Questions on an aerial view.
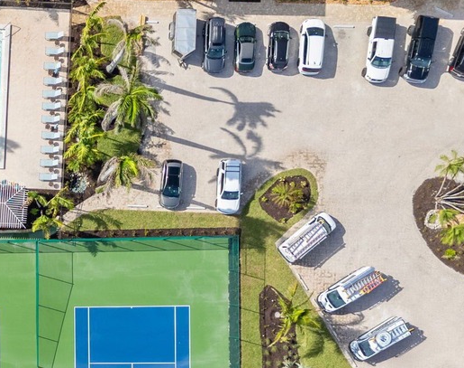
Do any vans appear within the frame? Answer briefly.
Yes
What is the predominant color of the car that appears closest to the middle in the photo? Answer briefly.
white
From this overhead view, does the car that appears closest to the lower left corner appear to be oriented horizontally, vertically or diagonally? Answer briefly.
vertically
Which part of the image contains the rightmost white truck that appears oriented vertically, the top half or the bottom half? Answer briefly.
top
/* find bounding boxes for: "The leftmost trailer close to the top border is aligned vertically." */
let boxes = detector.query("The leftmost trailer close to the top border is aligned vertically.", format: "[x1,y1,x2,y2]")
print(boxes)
[168,15,197,77]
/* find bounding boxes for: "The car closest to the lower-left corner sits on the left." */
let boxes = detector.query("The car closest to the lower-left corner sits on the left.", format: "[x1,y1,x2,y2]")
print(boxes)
[159,159,184,210]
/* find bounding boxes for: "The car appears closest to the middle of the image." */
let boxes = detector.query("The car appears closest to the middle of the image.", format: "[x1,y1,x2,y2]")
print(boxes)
[216,160,242,213]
